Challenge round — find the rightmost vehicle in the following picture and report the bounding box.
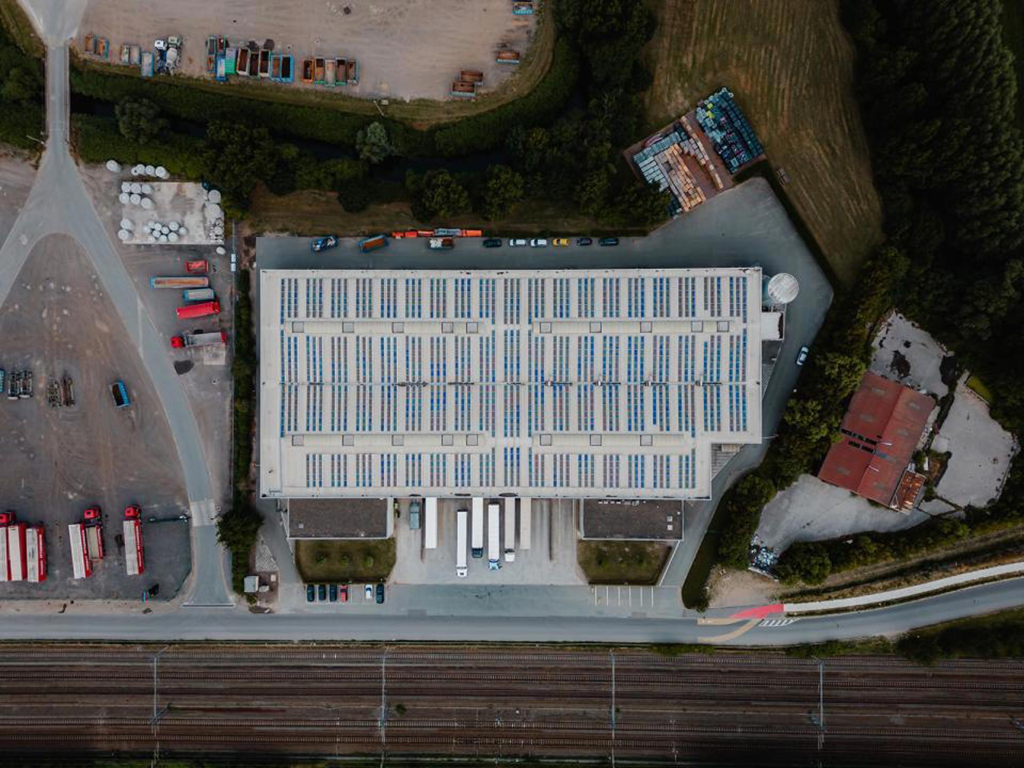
[795,346,808,365]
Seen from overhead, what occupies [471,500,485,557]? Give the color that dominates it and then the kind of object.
white vehicle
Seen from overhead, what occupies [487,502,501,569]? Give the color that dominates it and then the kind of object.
white vehicle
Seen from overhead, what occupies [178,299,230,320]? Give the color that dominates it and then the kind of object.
red truck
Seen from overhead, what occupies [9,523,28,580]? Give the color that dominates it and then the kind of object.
white trailer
